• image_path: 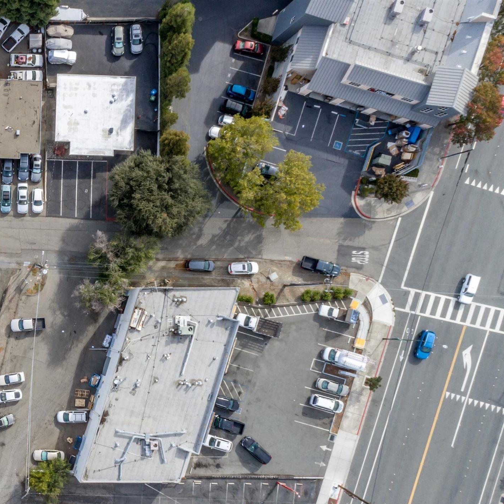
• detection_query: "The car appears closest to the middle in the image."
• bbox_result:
[227,260,259,274]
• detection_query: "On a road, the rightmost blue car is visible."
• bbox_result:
[415,330,436,360]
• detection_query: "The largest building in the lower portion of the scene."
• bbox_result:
[74,288,241,484]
